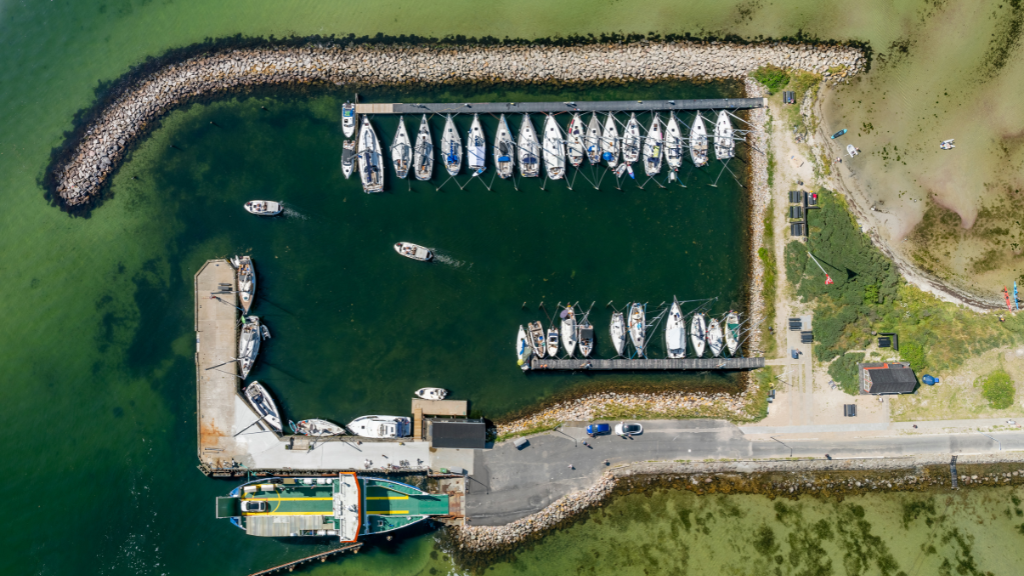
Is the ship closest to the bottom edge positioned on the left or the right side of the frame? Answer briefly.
left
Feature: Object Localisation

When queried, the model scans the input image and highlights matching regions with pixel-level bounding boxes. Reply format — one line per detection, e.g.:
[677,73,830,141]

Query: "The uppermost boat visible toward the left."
[341,100,355,137]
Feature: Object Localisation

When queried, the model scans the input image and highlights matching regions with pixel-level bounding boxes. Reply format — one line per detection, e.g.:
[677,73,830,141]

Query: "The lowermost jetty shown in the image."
[249,543,362,576]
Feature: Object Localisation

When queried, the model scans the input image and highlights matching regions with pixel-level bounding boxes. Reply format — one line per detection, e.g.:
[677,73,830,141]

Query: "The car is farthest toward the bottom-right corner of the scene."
[615,423,643,435]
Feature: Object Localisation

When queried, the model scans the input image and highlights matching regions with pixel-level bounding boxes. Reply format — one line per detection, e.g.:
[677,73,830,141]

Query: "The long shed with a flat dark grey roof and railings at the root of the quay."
[424,417,487,448]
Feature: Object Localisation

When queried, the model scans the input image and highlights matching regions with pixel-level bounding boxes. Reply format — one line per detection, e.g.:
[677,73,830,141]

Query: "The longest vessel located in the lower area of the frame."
[215,467,450,544]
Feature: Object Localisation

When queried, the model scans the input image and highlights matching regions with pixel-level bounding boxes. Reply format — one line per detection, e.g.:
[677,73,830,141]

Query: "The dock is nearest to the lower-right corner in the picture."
[530,356,763,370]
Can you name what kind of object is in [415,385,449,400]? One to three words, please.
boat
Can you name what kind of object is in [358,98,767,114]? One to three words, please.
pier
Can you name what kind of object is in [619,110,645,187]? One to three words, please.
boat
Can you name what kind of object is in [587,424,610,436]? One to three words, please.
vehicle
